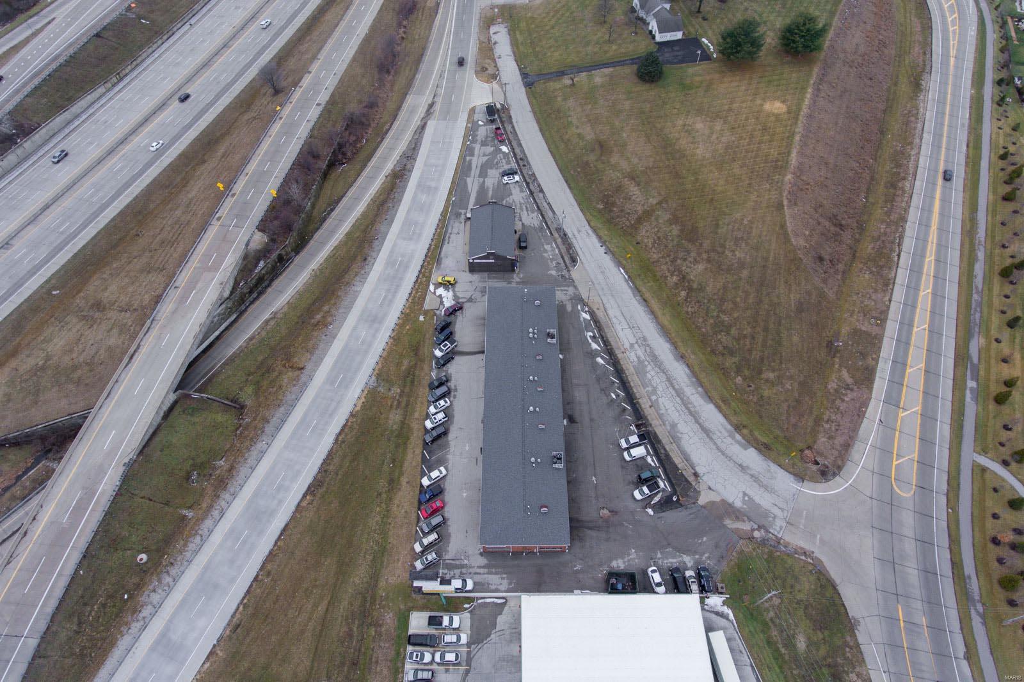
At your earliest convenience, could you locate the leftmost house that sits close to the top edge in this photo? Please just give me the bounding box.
[621,0,685,41]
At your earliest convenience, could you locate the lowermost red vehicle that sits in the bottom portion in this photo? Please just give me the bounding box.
[420,499,446,518]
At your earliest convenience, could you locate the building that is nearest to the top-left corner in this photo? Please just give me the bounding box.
[468,203,516,272]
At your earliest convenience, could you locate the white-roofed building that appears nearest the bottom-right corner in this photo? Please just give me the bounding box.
[521,595,712,682]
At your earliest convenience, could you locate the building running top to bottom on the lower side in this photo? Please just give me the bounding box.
[479,284,570,552]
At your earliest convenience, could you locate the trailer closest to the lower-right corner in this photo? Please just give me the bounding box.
[705,630,741,682]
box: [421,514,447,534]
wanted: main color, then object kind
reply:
gray car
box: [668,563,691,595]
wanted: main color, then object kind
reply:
black truck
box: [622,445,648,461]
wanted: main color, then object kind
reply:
white vehicle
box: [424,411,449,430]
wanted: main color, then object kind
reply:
white car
